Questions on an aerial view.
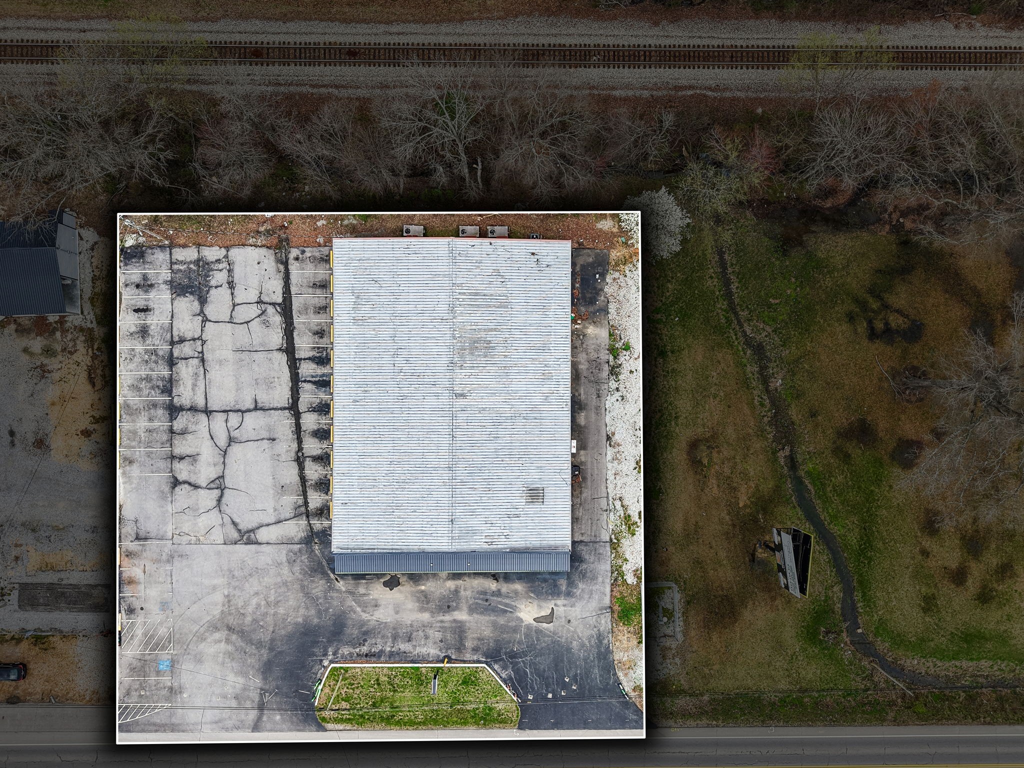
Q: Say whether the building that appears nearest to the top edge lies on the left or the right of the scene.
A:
left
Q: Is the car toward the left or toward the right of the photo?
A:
left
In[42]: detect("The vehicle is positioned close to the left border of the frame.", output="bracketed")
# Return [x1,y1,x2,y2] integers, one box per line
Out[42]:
[0,662,25,684]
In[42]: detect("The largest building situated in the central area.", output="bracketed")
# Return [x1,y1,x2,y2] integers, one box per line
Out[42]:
[332,236,572,573]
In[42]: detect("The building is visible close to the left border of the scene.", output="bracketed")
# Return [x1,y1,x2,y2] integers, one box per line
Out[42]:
[0,209,82,319]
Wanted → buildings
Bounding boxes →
[332,236,572,573]
[0,209,82,319]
